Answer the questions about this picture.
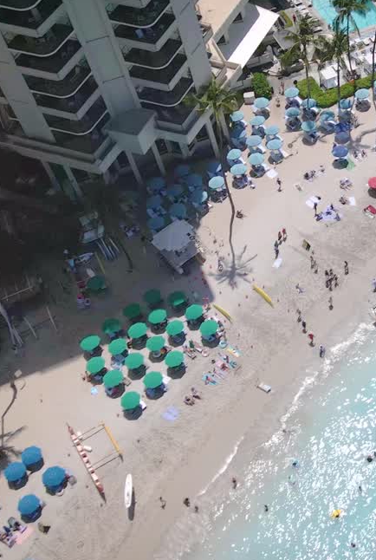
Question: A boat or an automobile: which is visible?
boat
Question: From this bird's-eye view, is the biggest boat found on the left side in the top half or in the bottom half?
bottom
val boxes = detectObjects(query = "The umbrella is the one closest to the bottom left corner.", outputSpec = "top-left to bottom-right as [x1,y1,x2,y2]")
[15,494,40,518]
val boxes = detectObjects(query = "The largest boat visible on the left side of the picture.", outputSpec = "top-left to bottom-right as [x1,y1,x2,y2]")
[66,419,121,498]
